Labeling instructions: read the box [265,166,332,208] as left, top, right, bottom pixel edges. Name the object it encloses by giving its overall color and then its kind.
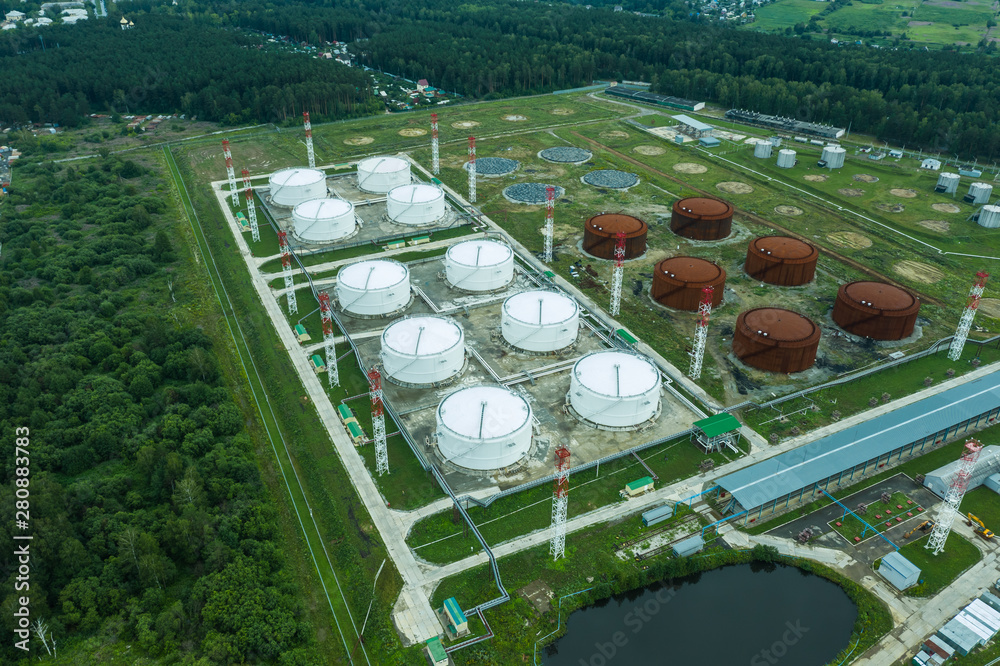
white storage tank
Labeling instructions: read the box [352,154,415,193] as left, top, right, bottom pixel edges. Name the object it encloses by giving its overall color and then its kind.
white storage tank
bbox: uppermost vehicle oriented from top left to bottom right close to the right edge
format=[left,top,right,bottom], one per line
[966,515,998,542]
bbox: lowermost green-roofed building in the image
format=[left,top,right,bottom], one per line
[421,638,456,666]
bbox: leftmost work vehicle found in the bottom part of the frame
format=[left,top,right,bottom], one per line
[907,519,937,536]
